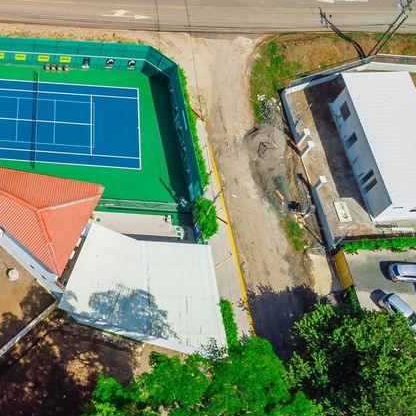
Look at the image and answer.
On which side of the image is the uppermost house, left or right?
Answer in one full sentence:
It is on the right.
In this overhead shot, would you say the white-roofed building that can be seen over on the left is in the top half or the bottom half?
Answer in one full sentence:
The white-roofed building that can be seen over on the left is in the bottom half of the image.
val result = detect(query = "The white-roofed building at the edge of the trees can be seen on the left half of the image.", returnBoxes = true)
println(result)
[60,222,230,361]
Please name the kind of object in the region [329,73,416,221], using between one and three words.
house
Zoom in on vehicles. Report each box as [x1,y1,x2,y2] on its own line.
[389,264,416,286]
[380,291,416,325]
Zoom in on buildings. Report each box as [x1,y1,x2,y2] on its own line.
[60,222,230,361]
[0,168,106,291]
[329,73,416,221]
